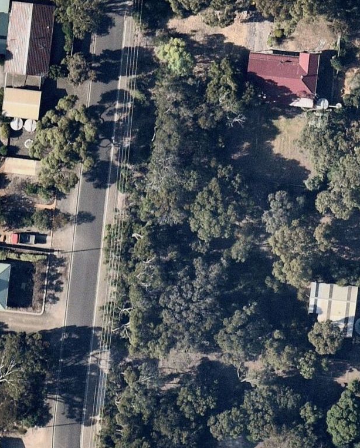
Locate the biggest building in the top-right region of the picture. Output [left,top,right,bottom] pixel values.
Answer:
[244,52,320,108]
